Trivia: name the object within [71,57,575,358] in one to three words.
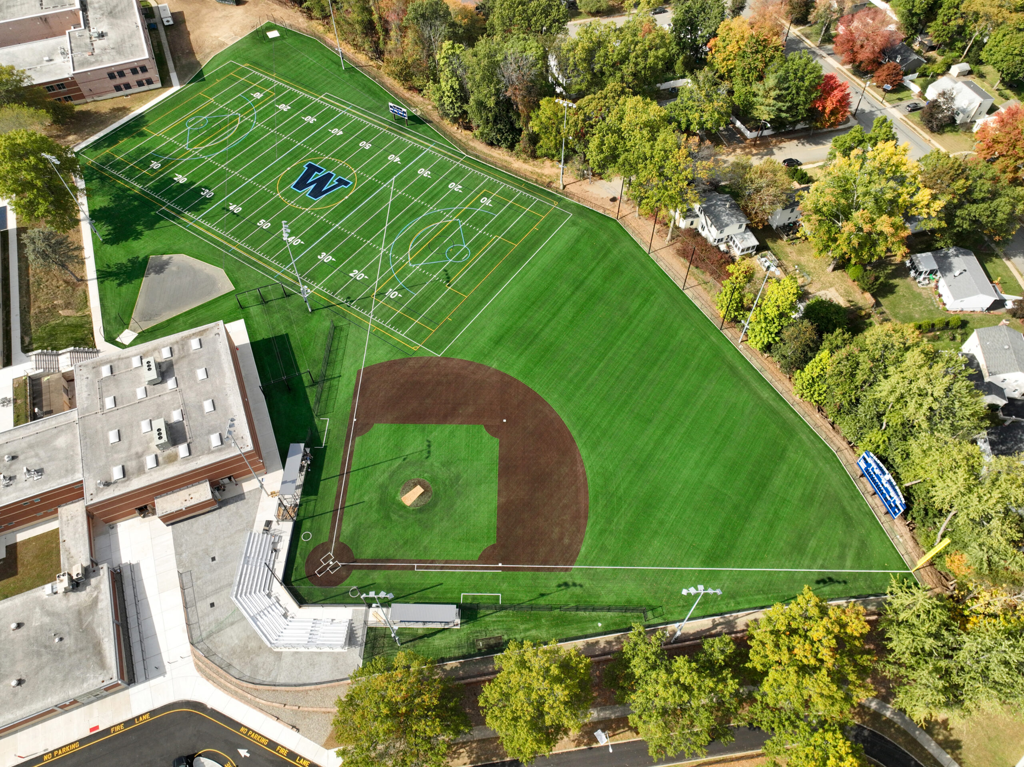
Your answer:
sports field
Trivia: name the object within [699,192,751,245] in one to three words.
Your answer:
house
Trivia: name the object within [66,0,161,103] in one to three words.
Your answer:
building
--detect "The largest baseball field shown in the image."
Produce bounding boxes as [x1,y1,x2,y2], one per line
[75,21,919,675]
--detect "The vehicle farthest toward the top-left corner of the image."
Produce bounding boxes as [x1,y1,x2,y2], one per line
[158,3,173,25]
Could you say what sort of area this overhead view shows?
sports ground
